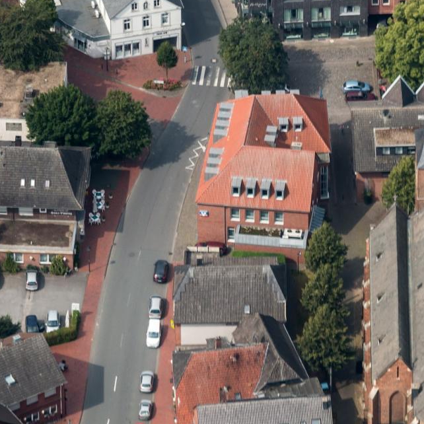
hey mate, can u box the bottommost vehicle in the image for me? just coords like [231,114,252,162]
[138,399,153,421]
